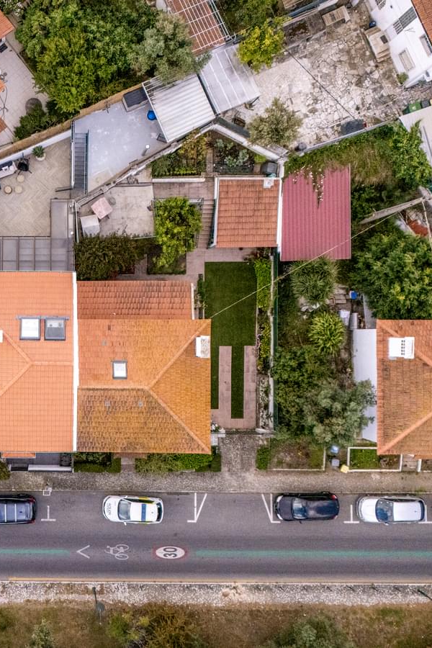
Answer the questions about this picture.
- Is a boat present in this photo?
No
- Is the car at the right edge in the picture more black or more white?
white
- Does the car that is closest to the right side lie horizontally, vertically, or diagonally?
horizontally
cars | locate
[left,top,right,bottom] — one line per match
[356,492,428,526]
[0,492,37,522]
[273,490,339,524]
[102,493,163,525]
